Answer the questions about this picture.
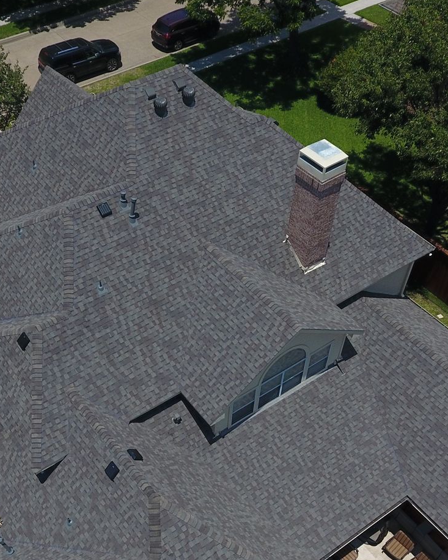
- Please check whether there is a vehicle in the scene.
Yes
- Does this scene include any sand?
No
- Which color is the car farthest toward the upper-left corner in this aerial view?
black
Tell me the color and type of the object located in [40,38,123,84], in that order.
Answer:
black car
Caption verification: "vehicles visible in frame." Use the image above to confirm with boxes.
[40,38,123,84]
[159,6,226,48]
